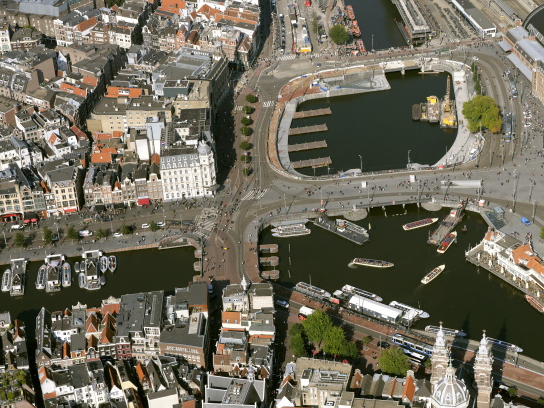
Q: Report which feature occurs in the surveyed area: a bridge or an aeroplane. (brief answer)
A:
bridge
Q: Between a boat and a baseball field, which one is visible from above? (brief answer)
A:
boat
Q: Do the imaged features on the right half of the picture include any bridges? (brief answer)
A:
Yes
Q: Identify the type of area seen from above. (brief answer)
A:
residential area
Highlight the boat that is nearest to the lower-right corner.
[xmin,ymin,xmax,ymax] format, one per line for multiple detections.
[483,336,522,352]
